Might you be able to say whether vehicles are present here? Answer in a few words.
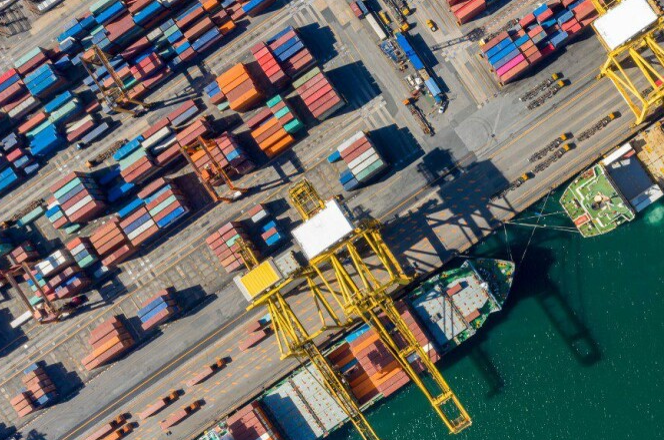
Yes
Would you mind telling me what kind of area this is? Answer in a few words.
port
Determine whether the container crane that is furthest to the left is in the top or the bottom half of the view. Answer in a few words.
bottom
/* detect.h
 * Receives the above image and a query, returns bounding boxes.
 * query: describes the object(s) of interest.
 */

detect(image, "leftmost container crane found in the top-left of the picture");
[75,44,153,118]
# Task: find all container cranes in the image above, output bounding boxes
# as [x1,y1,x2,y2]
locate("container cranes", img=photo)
[178,136,250,205]
[585,0,664,134]
[75,44,153,118]
[1,260,82,323]
[234,245,392,440]
[277,174,476,440]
